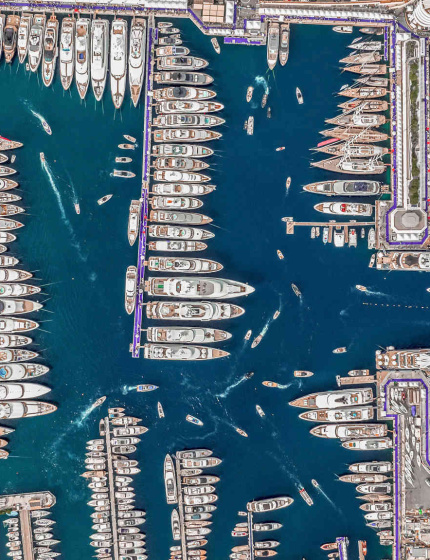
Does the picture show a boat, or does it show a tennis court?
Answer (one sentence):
Visible in the photo is a boat.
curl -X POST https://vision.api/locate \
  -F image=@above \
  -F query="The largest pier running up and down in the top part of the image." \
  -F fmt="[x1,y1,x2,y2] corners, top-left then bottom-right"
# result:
[132,18,158,358]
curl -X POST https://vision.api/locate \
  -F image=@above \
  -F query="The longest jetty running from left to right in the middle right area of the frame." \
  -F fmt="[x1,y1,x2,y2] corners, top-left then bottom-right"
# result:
[286,221,375,234]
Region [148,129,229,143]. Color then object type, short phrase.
white boat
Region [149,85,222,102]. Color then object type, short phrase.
white boat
